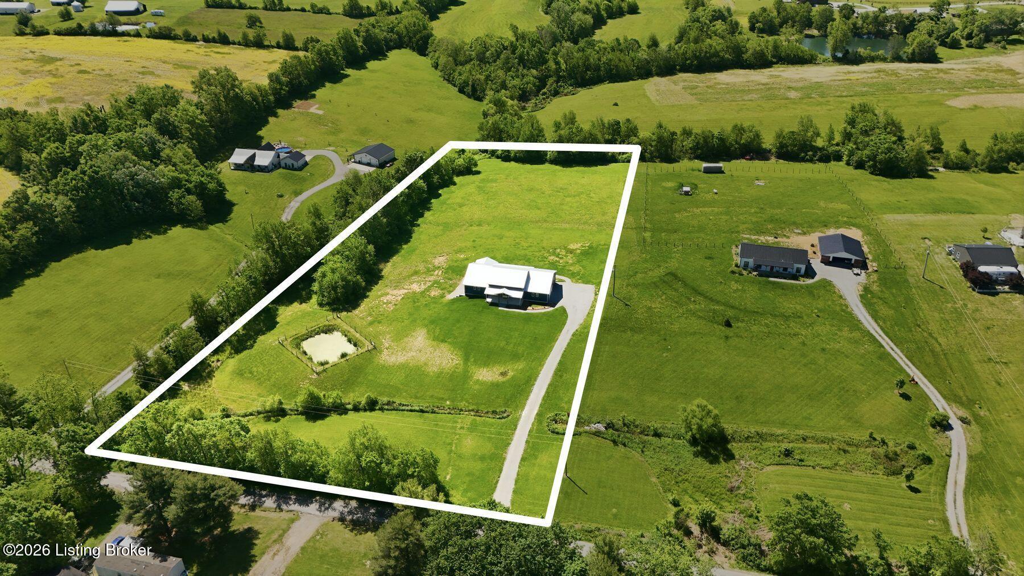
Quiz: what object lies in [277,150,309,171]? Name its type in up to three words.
building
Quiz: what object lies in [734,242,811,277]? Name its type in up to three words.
house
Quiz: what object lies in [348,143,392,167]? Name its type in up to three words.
shed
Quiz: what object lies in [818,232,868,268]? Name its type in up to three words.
building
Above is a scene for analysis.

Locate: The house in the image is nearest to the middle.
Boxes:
[463,252,556,306]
